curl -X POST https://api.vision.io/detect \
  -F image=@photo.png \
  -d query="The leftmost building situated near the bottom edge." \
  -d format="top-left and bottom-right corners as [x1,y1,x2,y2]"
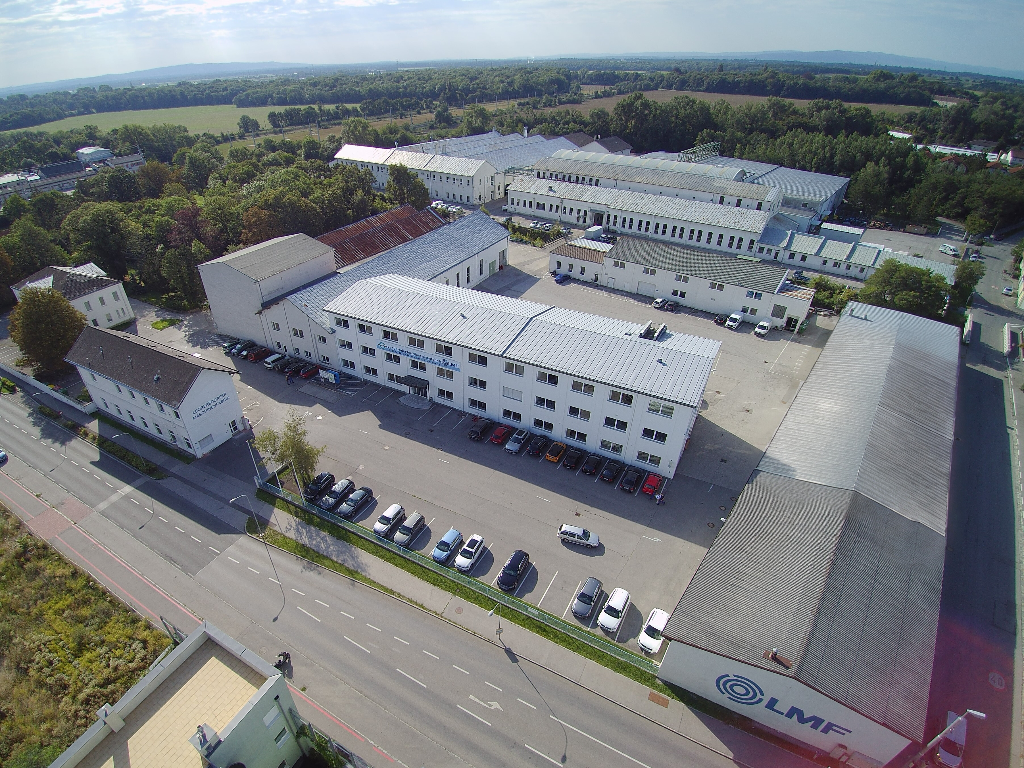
[31,617,313,768]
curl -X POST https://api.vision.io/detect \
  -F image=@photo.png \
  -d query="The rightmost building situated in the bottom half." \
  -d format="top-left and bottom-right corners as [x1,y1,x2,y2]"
[656,300,960,763]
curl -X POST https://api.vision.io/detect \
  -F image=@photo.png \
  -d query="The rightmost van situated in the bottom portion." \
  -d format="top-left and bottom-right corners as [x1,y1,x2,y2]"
[929,699,983,768]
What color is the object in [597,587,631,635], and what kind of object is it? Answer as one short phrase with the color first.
white car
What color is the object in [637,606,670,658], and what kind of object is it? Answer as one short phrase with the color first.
white car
